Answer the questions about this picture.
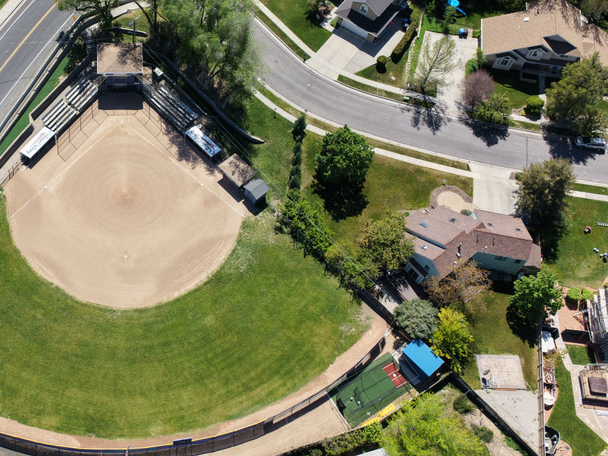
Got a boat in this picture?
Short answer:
No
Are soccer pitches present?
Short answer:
No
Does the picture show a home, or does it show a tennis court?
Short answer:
home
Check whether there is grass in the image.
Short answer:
Yes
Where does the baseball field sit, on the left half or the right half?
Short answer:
left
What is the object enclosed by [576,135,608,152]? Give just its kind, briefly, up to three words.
car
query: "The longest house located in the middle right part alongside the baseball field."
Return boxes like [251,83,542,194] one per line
[394,206,541,285]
